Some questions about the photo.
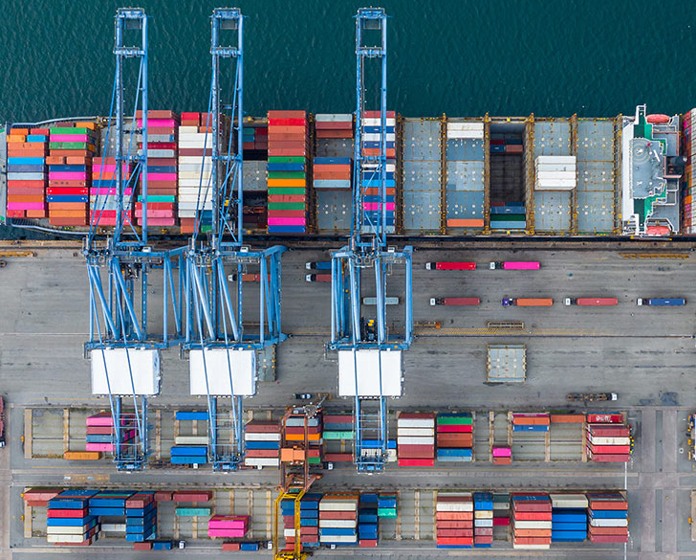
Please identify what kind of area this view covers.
port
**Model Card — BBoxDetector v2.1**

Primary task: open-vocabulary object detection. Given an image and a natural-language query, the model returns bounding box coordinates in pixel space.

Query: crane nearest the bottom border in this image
[271,477,315,560]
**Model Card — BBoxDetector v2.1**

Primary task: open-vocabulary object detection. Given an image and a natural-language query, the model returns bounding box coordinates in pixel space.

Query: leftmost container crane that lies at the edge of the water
[80,7,208,471]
